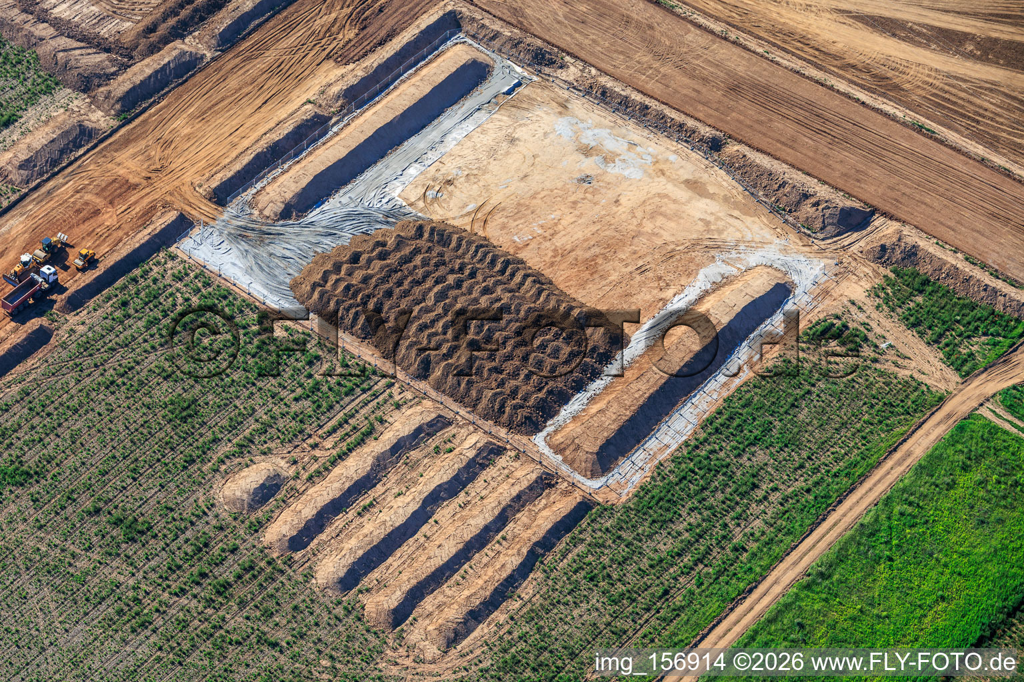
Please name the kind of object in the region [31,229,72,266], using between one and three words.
work vehicle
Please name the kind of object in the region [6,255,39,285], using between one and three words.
work vehicle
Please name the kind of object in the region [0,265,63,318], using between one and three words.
truck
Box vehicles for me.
[6,255,39,285]
[70,248,94,269]
[31,229,72,266]
[0,265,63,318]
